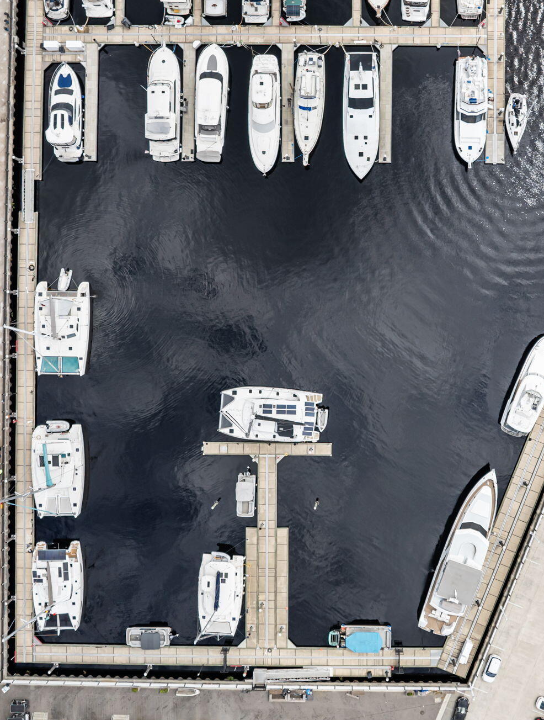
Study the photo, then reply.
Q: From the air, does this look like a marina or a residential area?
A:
marina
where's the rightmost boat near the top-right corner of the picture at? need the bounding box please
[504,93,536,150]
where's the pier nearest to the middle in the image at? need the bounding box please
[203,441,332,456]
